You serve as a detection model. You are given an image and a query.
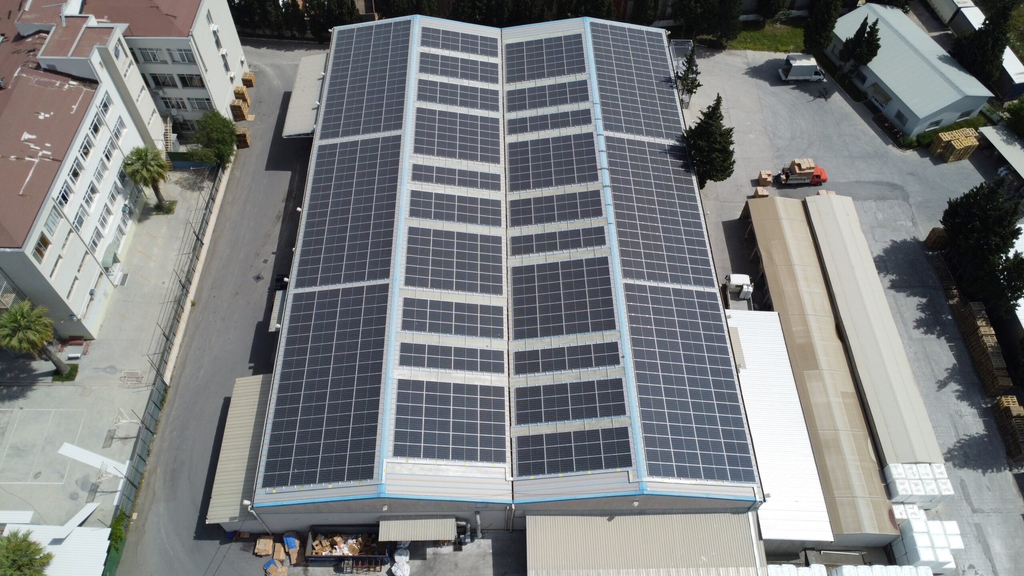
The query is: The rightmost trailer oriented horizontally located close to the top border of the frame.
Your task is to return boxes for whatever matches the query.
[901,0,969,29]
